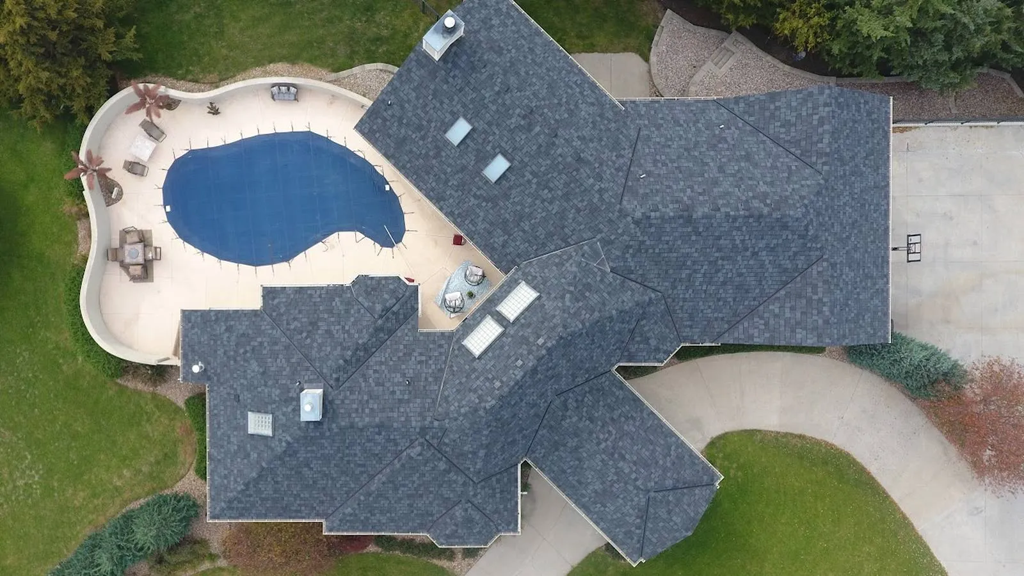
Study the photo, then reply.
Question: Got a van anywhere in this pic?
No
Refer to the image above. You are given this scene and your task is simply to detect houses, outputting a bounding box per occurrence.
[179,0,894,567]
